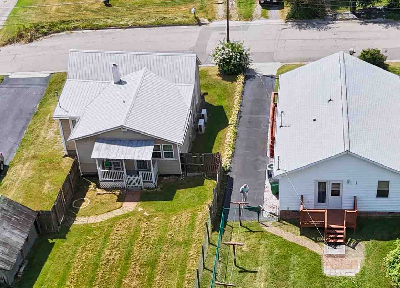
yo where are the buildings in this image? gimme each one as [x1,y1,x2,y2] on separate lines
[273,52,400,219]
[48,49,214,194]
[0,187,39,286]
